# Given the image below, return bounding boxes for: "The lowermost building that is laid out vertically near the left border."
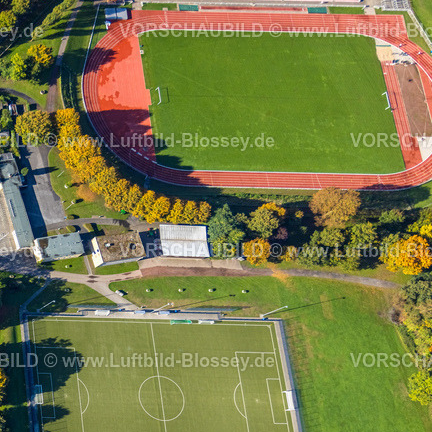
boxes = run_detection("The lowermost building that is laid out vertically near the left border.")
[1,180,33,251]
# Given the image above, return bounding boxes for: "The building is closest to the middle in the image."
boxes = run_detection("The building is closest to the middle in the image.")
[155,225,209,260]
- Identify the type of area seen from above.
sports ground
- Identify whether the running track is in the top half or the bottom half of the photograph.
top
